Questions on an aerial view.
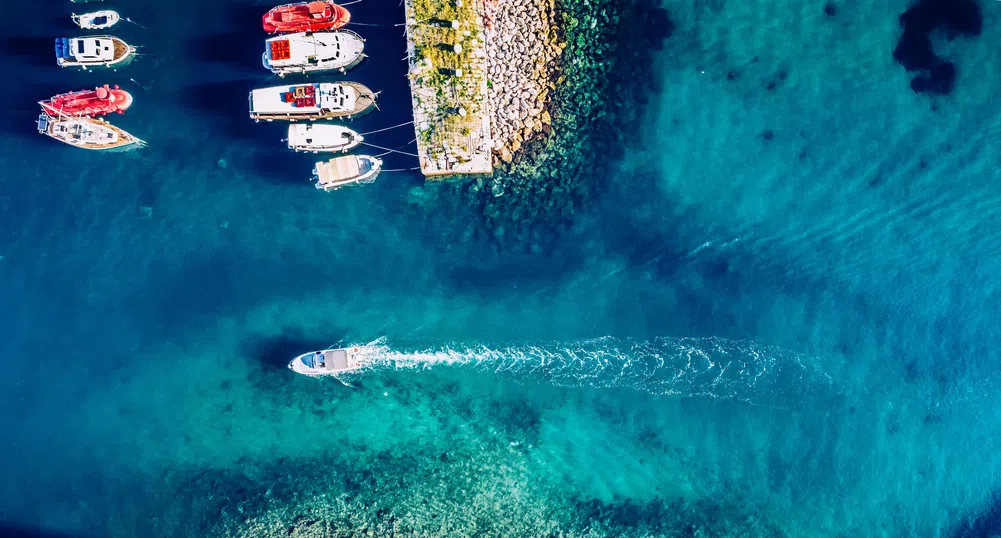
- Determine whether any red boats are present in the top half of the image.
Yes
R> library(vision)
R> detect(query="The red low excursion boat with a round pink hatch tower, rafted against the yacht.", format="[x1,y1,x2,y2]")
[38,84,136,117]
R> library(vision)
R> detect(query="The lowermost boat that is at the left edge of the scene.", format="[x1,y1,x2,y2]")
[35,102,149,150]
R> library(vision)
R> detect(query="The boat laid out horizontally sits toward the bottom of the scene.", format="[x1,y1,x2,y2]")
[286,347,366,375]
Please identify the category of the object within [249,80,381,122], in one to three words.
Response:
boat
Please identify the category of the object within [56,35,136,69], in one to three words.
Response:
boat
